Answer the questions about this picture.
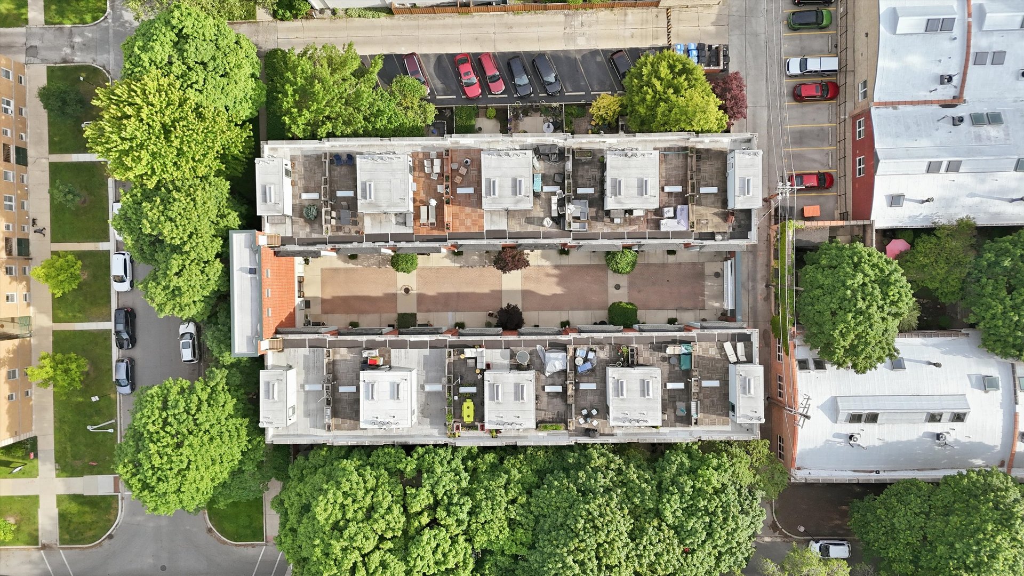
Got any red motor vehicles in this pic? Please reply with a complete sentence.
Yes, looking at the shot, I can spot a red motor vehicle.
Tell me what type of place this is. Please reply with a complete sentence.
The picture captures an industrial area.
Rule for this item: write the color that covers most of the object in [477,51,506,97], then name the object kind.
red car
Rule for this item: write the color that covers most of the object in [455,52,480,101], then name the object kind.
red car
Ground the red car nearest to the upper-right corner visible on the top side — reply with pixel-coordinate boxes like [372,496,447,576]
[793,80,838,102]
